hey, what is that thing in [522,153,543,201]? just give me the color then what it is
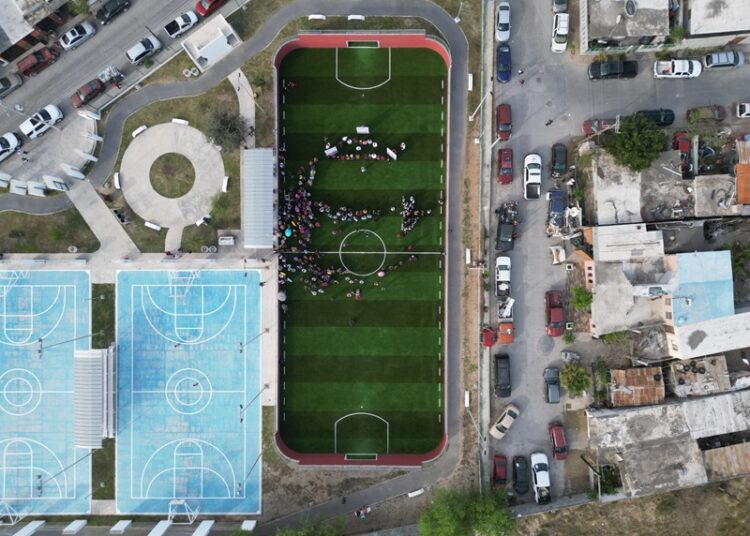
white truck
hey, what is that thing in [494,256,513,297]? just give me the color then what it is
white vehicle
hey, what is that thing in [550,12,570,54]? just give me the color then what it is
white car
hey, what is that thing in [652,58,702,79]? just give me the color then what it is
white truck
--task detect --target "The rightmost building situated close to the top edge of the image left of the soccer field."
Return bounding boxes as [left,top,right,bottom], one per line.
[182,15,245,76]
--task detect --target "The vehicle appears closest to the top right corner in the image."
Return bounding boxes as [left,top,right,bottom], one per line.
[701,48,745,70]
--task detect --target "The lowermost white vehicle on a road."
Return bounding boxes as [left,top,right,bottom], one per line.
[530,452,552,505]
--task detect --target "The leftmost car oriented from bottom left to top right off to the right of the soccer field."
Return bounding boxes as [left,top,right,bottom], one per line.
[488,401,521,440]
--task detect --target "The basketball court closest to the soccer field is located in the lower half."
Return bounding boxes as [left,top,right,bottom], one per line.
[116,269,261,515]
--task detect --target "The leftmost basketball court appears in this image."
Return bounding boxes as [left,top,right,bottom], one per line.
[0,269,91,515]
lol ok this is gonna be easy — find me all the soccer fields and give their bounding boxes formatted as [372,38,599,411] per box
[279,42,444,459]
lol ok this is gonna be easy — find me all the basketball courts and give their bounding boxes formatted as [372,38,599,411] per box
[116,269,261,515]
[0,269,91,515]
